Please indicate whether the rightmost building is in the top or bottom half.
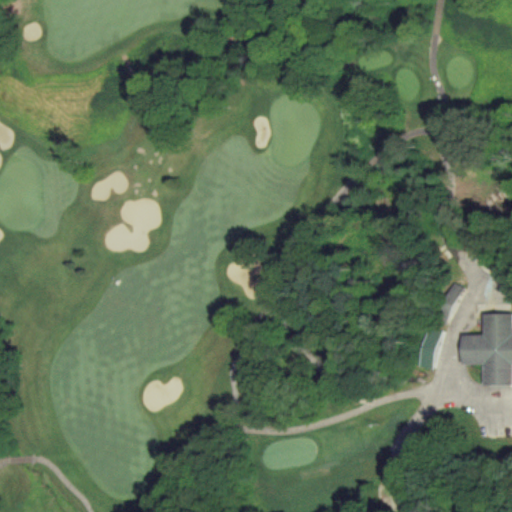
bottom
